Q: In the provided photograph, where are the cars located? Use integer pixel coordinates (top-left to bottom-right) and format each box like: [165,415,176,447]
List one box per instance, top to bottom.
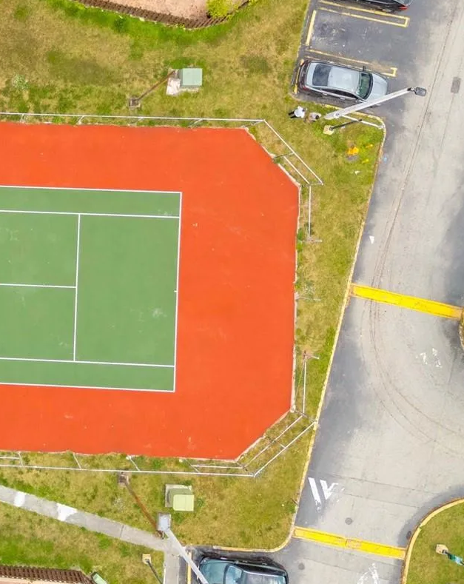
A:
[327,0,413,13]
[294,58,386,103]
[194,555,287,584]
